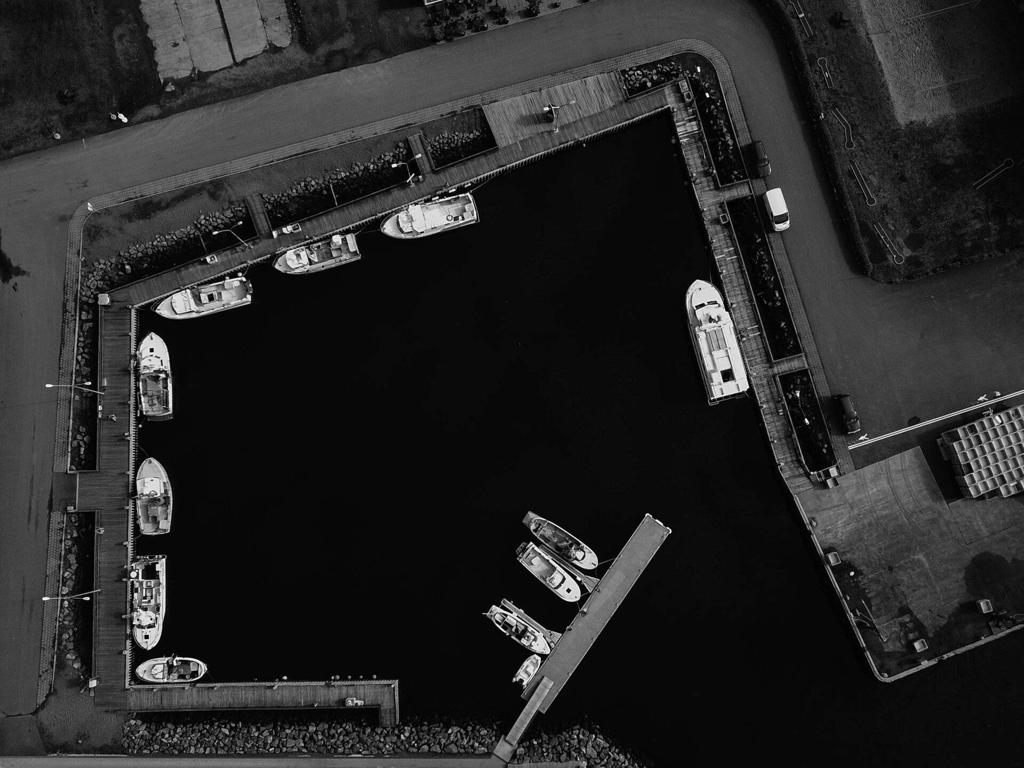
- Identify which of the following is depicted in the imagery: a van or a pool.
van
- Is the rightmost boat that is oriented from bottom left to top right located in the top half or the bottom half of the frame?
bottom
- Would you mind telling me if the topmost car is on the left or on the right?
right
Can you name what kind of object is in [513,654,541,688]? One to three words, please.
boat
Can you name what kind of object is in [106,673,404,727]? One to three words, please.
pier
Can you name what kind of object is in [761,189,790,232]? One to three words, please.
van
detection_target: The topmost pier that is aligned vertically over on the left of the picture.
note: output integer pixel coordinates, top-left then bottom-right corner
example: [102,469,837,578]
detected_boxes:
[67,304,145,708]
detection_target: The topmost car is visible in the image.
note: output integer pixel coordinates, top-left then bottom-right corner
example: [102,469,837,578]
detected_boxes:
[749,142,772,178]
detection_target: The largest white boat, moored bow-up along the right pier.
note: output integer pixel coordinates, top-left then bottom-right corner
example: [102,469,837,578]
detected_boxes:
[686,279,749,405]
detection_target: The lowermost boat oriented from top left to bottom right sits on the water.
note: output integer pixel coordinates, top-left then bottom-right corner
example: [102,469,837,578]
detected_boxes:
[482,604,550,654]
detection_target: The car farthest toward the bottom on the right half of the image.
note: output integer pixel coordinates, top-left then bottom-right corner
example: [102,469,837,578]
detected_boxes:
[833,395,862,433]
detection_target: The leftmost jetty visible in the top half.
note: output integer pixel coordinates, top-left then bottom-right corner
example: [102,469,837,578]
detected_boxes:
[106,75,686,313]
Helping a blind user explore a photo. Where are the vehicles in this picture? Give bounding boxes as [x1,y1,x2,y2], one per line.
[833,395,862,433]
[749,142,772,178]
[761,189,790,232]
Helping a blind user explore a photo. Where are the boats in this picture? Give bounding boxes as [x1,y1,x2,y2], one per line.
[136,332,175,420]
[272,234,361,273]
[132,458,175,535]
[482,604,550,654]
[513,654,541,688]
[151,273,254,318]
[686,279,749,405]
[135,653,209,682]
[131,555,169,650]
[516,542,581,602]
[381,184,479,239]
[522,511,598,570]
